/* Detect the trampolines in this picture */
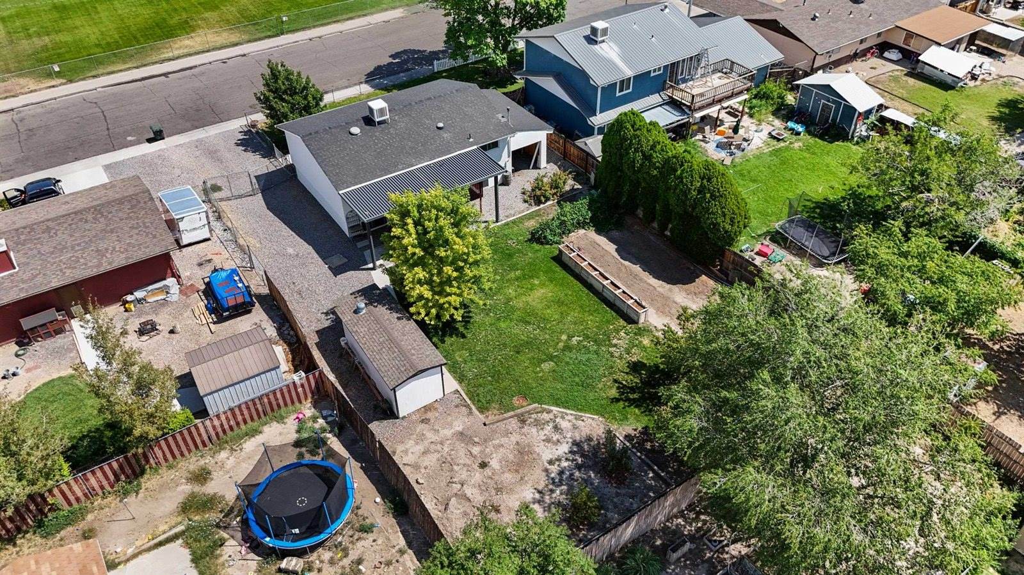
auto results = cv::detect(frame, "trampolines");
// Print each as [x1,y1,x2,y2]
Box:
[224,426,354,565]
[773,194,854,272]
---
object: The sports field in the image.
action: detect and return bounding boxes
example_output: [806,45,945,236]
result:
[0,0,423,97]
